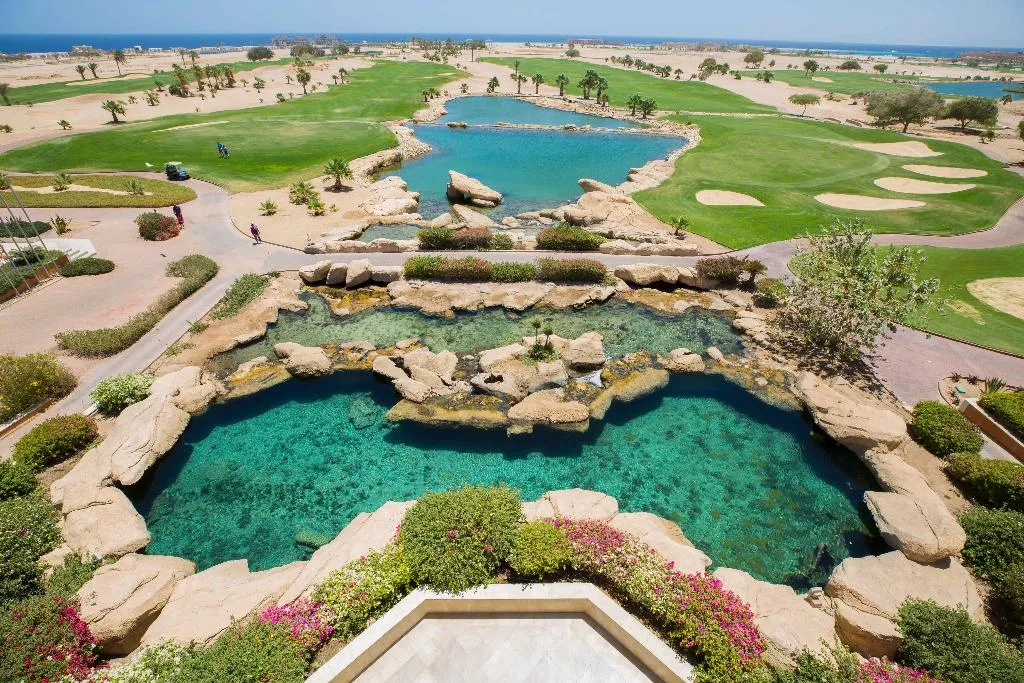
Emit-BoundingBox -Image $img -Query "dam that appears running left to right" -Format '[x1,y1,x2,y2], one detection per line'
[411,122,650,137]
